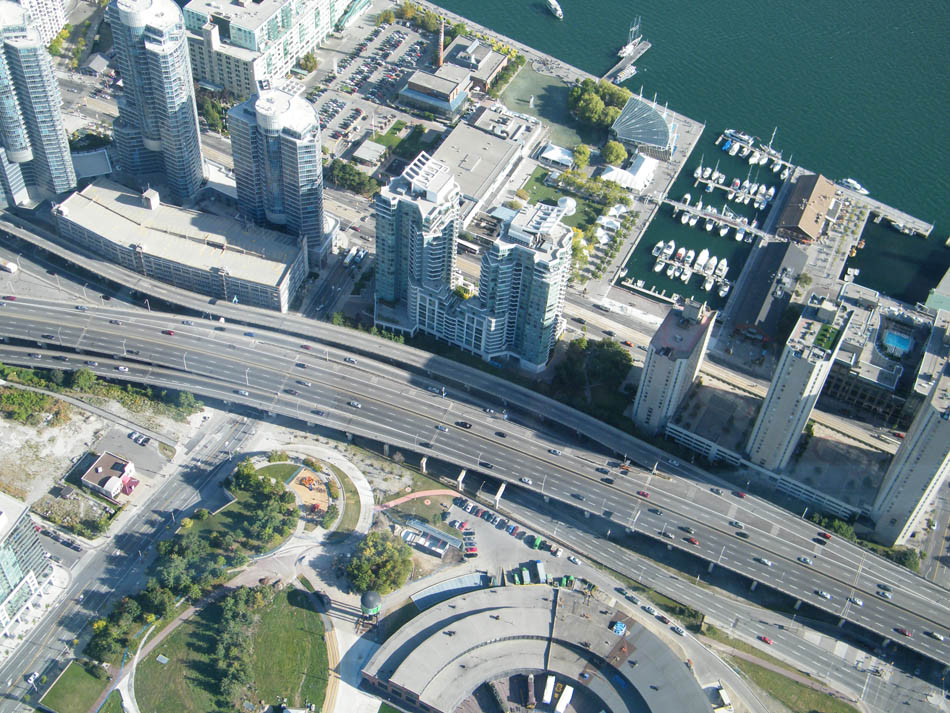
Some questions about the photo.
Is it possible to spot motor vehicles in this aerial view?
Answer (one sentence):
Yes, a motor vehicle is visible in the scene.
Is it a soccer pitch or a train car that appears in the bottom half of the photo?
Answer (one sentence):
What appears in the bottom half of the photo is a train car.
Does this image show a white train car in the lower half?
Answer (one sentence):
Yes, a white train car is visible in the lower half.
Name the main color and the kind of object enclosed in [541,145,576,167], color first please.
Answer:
white tent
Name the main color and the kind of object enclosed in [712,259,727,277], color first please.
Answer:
white boat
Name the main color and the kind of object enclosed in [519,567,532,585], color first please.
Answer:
white vehicle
